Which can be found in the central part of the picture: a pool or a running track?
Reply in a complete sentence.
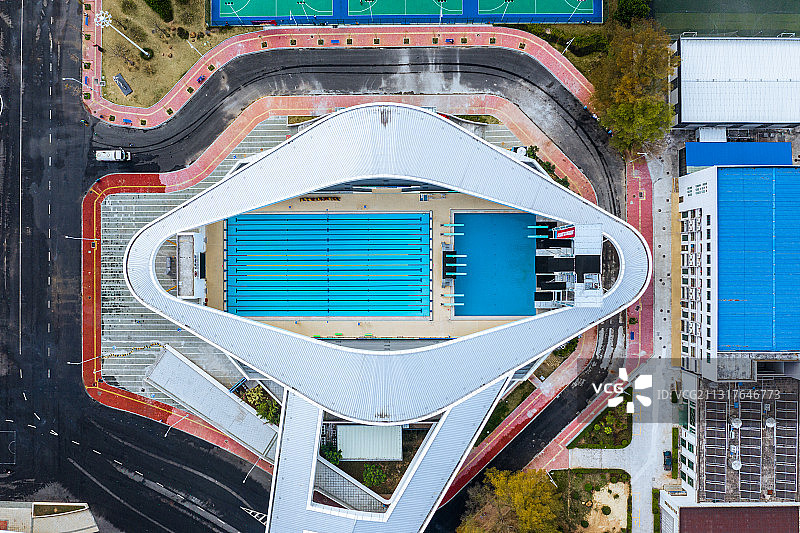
Visible in the central part of the picture is a pool.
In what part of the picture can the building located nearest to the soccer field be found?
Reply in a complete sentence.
The building located nearest to the soccer field appears toward the top right of the photo.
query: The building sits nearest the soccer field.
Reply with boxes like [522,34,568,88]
[670,36,800,126]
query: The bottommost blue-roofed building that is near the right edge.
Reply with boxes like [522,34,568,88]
[677,166,800,385]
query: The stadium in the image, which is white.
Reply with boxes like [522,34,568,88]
[123,102,653,426]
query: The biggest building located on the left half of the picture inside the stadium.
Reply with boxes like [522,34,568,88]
[177,228,208,302]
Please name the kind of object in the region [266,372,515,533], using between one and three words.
building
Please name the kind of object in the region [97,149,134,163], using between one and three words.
vehicle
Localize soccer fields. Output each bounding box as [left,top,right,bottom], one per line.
[653,0,800,37]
